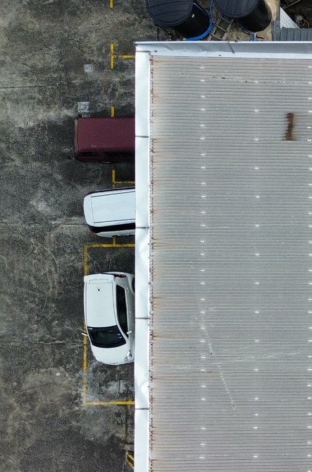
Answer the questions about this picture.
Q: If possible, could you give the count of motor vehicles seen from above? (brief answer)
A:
3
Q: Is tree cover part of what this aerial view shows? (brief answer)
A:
No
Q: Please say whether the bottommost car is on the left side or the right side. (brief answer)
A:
left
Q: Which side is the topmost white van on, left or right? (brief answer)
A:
left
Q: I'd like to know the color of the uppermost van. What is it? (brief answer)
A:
red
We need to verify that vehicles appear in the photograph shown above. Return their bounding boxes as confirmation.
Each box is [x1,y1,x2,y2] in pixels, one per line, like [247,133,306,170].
[83,186,136,238]
[82,273,136,365]
[74,118,136,165]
